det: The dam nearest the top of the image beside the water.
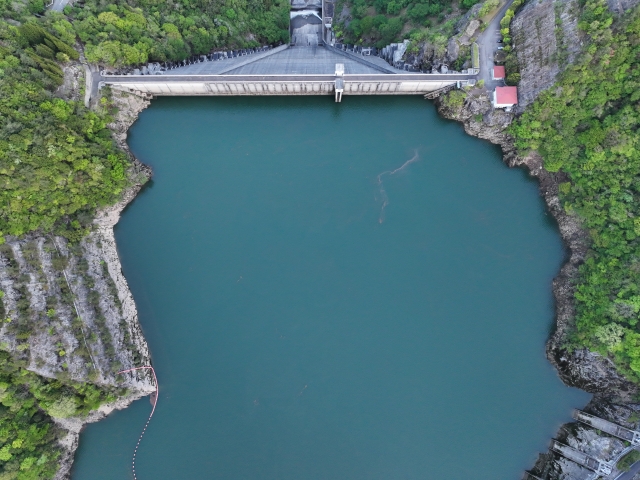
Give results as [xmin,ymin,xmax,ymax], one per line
[97,0,481,99]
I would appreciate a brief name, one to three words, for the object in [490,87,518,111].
house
